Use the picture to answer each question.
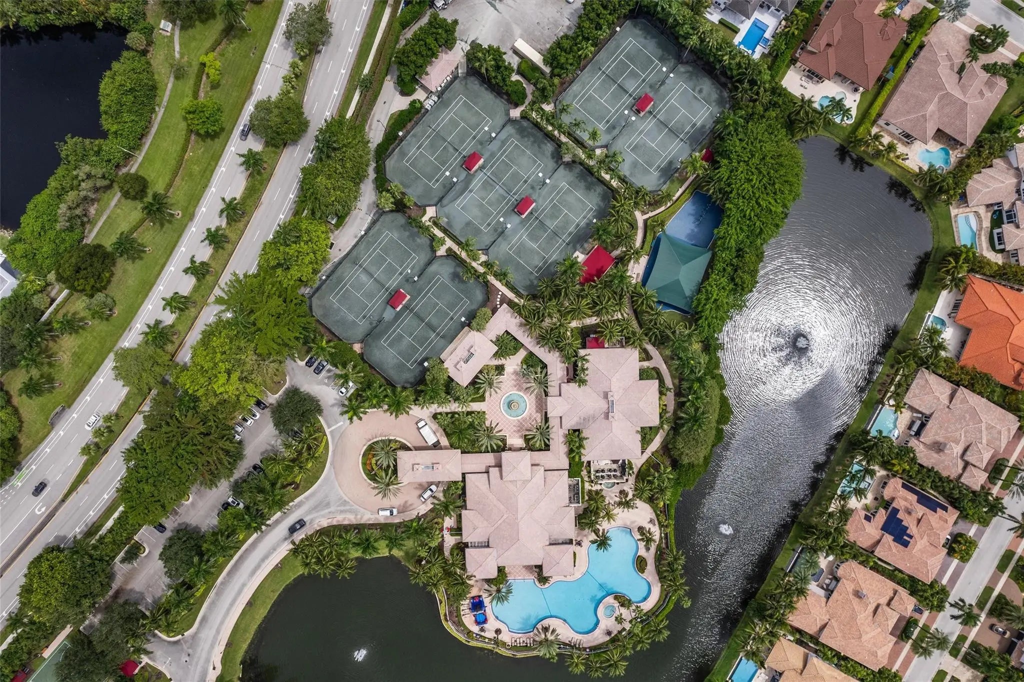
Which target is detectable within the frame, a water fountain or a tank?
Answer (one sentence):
This aerial view contains a water fountain.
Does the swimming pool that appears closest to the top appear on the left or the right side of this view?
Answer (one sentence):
It is on the right.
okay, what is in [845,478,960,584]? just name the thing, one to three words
house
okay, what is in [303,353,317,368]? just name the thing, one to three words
car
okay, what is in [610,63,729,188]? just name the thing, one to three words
tennis court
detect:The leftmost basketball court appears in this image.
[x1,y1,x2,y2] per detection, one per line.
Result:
[25,641,102,682]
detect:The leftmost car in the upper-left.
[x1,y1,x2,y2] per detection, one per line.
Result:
[238,122,252,141]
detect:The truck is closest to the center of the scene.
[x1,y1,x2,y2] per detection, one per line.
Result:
[416,418,440,449]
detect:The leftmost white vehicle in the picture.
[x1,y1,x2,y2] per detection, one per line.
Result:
[85,412,100,430]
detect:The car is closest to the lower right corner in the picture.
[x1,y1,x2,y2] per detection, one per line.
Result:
[990,624,1008,638]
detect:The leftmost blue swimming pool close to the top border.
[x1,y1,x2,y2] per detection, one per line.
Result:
[736,15,771,52]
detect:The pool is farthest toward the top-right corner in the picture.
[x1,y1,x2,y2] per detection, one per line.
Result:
[917,145,953,171]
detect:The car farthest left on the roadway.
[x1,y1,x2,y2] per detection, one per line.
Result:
[31,479,47,497]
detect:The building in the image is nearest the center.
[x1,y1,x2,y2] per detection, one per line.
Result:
[441,327,497,387]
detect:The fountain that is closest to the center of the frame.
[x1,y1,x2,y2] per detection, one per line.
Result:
[501,392,527,419]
